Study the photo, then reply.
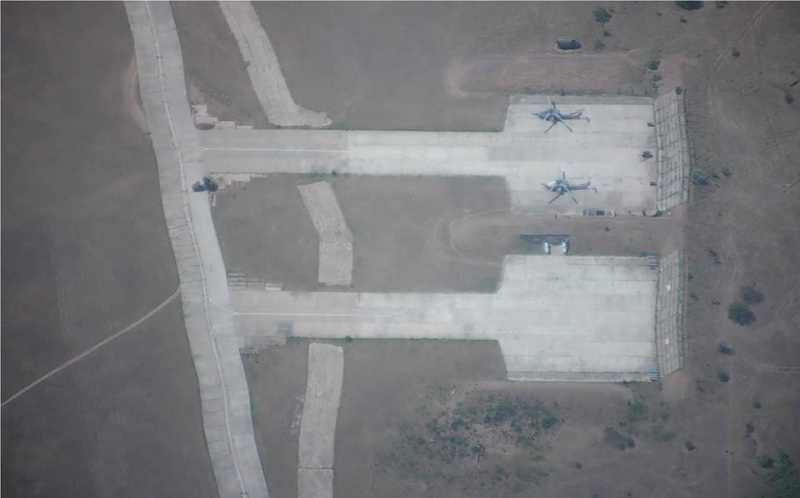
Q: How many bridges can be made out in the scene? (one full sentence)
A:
The count of bridges is 0.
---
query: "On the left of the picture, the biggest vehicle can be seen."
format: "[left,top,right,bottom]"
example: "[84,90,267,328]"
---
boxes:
[203,179,220,192]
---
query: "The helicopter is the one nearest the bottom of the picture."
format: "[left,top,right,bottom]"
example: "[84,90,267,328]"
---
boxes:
[538,167,596,199]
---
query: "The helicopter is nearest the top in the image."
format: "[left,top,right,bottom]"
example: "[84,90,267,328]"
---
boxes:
[529,96,587,127]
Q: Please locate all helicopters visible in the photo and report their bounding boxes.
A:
[538,167,596,199]
[529,96,587,127]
